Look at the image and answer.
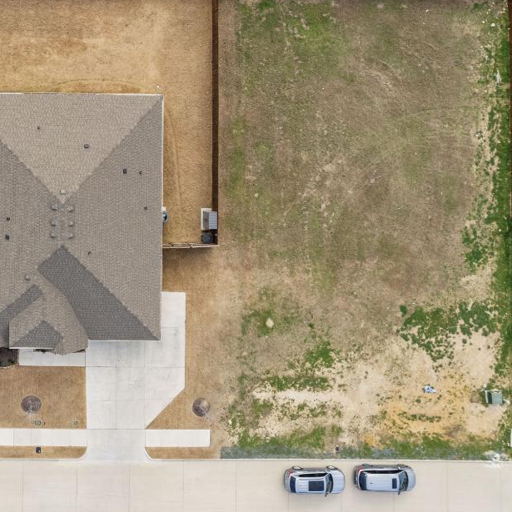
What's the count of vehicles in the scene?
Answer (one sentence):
Looking from above, you can make out 2 vehicles.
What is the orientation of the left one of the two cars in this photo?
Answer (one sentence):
In this picture, the left one of the two cars lies from side to side.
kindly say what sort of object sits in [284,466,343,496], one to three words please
car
